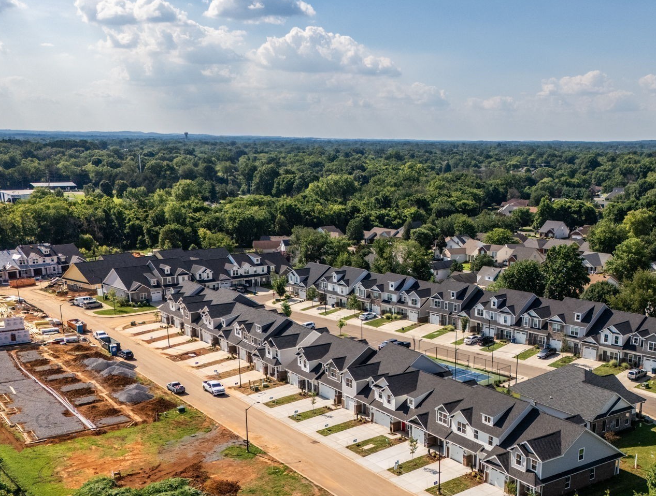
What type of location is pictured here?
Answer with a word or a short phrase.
residential area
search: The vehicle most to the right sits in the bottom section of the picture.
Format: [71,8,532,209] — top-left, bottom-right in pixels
[626,366,646,379]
